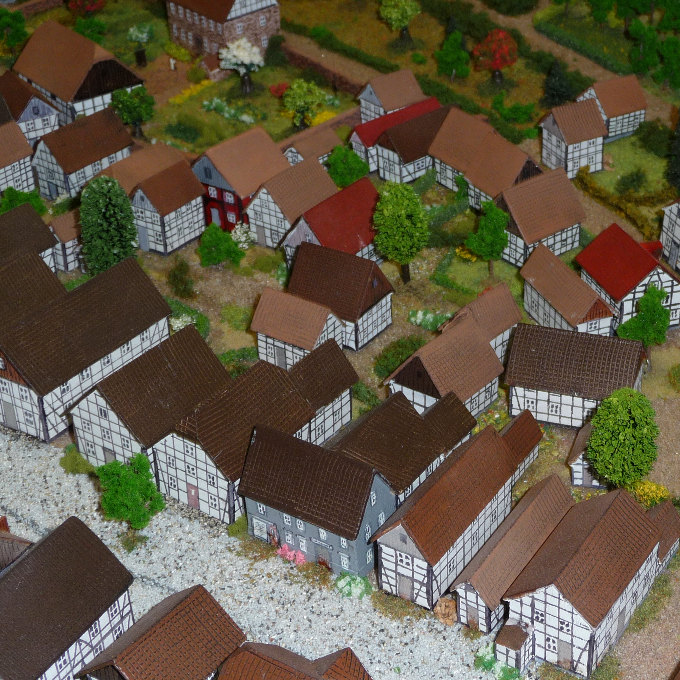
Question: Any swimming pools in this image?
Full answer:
No, the picture doesn't show any swimming pool.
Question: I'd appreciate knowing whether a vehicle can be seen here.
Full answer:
No, no vehicle can be seen from above.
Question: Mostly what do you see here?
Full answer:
The bulk of the photo consists of buildings.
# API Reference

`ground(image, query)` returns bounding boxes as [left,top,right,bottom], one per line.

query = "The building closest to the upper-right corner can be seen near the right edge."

[577,75,646,143]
